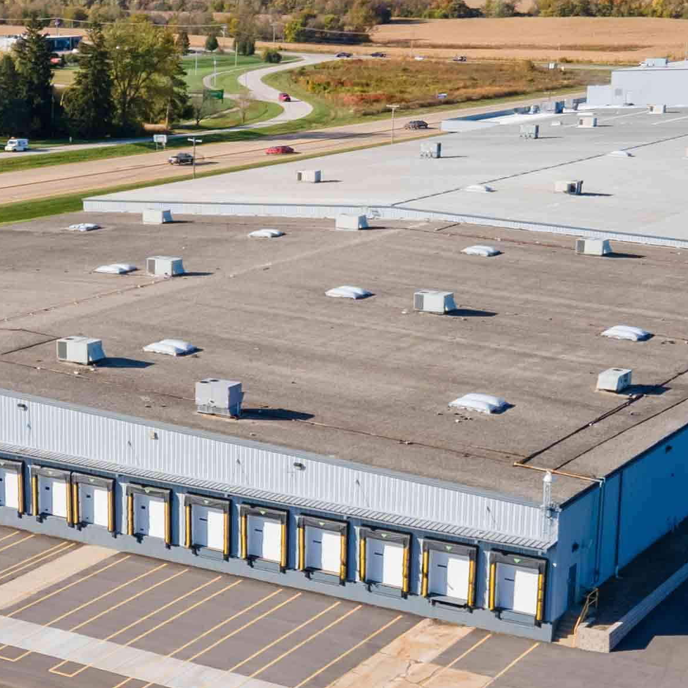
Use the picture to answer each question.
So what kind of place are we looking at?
industrial area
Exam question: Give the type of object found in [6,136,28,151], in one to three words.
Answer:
vehicle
